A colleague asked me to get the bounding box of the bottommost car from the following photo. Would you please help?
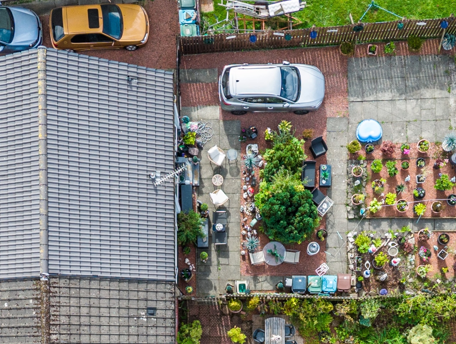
[218,56,326,115]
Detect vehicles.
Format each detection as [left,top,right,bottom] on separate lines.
[0,0,44,56]
[50,0,150,52]
[218,56,326,115]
